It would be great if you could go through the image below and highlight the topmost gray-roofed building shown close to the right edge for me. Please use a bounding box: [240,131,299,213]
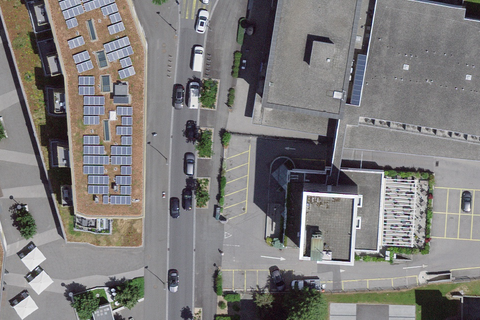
[330,0,480,185]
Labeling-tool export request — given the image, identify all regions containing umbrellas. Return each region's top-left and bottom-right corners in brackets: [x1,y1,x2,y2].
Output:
[13,296,38,320]
[28,270,54,294]
[21,246,46,272]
